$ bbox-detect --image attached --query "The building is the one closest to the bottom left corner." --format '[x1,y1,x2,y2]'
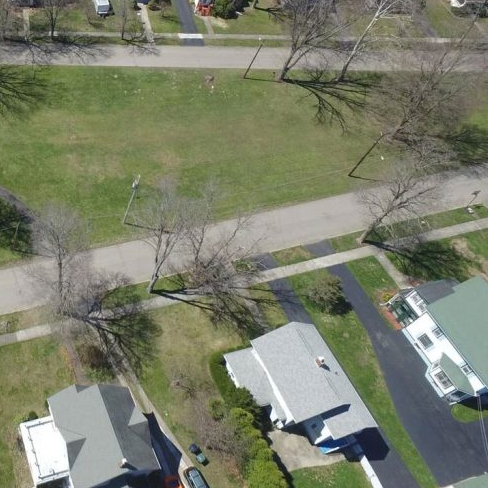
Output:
[18,375,167,488]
